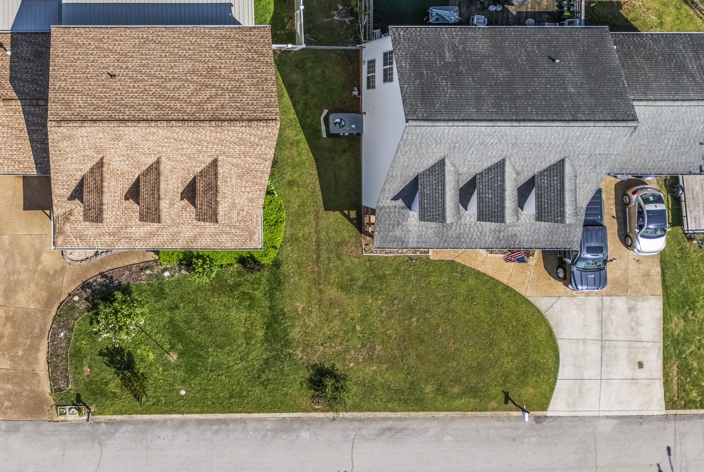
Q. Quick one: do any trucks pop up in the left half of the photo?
No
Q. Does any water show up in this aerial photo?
No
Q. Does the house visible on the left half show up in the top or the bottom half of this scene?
top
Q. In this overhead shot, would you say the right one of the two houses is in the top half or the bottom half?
top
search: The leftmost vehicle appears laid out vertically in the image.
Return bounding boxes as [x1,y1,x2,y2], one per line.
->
[564,193,612,294]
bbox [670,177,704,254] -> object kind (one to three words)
trailer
